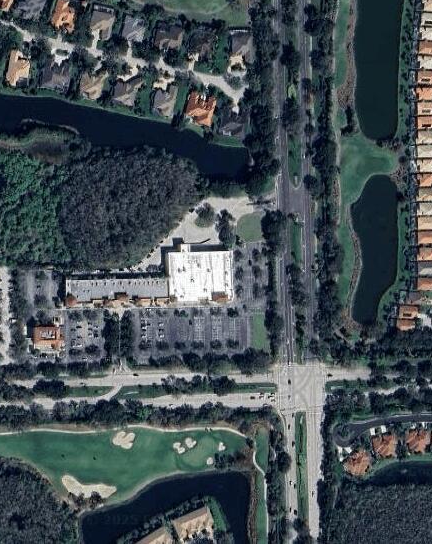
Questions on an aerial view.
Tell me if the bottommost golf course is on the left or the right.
left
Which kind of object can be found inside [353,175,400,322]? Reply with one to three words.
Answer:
pond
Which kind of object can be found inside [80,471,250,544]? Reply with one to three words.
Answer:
pond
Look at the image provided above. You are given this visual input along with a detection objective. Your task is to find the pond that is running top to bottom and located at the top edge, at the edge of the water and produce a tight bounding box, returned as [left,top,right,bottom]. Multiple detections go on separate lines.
[354,0,404,140]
